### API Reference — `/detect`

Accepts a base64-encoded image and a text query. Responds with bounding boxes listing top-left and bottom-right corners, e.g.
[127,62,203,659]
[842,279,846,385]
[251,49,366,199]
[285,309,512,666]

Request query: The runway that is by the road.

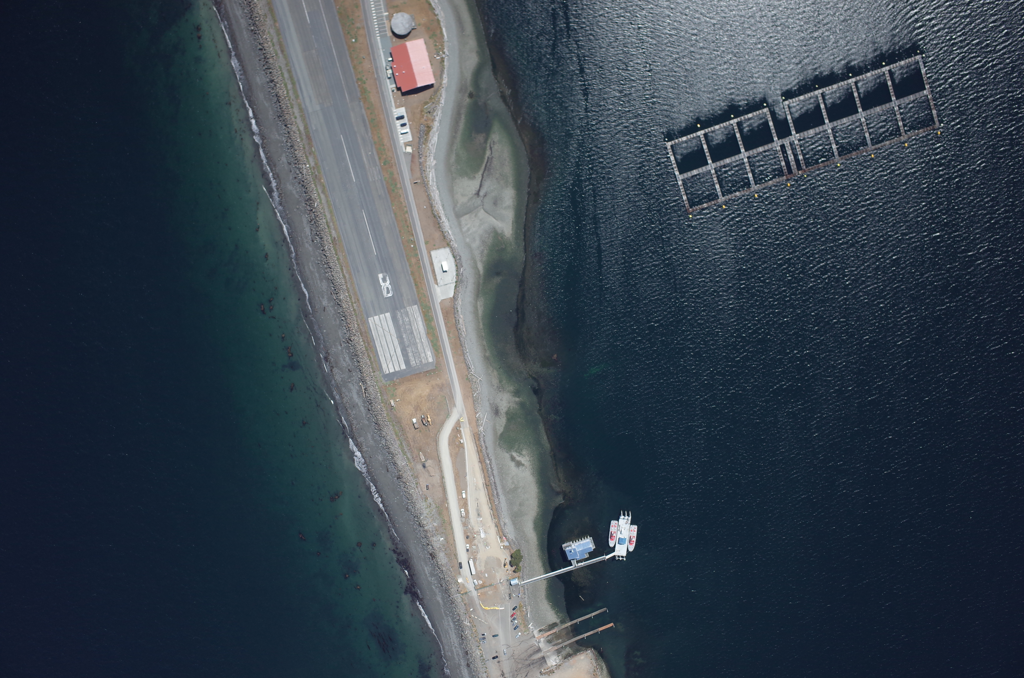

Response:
[272,0,435,381]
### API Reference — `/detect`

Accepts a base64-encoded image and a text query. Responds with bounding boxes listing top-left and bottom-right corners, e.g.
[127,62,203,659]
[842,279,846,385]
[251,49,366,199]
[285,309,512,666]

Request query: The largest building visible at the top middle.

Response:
[391,38,435,92]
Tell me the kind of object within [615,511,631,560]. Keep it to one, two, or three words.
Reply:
ship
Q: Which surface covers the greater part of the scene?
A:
water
